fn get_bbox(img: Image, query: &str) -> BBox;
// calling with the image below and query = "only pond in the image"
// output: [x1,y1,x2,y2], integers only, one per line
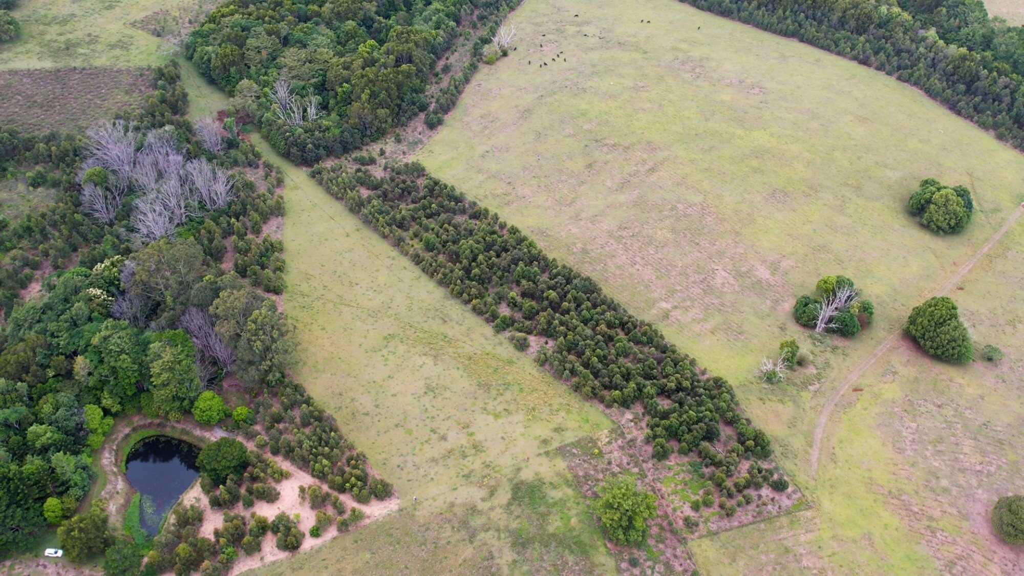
[124,434,204,534]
